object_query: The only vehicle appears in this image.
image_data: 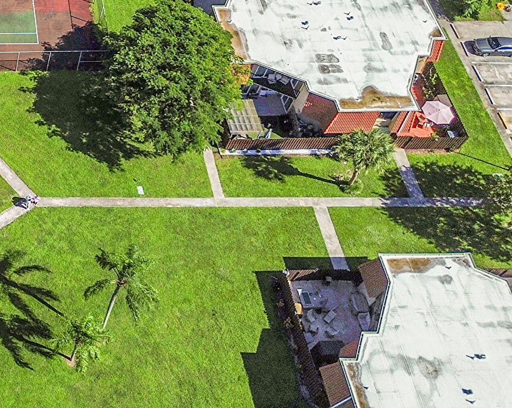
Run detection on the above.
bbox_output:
[469,35,512,56]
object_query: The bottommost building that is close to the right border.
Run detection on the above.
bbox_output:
[319,254,512,408]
